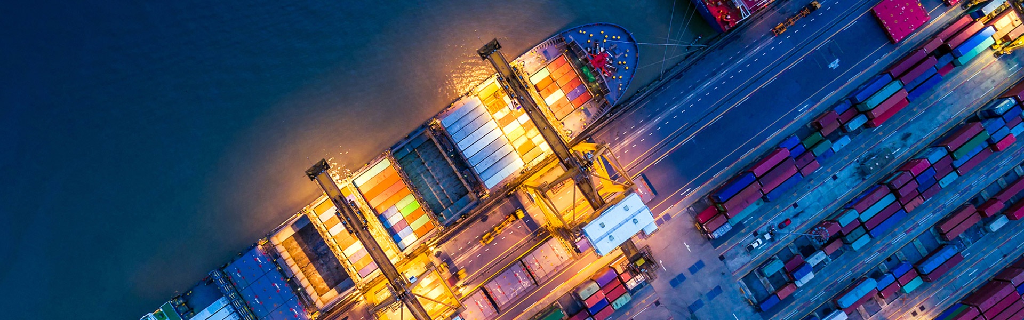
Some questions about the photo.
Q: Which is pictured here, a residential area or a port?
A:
port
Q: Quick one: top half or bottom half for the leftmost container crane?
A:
bottom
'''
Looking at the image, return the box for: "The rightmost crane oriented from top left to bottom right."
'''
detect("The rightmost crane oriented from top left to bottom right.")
[468,36,665,290]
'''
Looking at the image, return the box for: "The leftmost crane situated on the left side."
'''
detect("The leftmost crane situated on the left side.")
[292,161,486,320]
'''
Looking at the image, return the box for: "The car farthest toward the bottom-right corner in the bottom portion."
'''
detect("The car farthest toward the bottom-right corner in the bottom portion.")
[777,217,793,229]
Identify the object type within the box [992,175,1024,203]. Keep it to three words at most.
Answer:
shipping container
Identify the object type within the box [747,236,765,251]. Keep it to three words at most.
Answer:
vehicle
